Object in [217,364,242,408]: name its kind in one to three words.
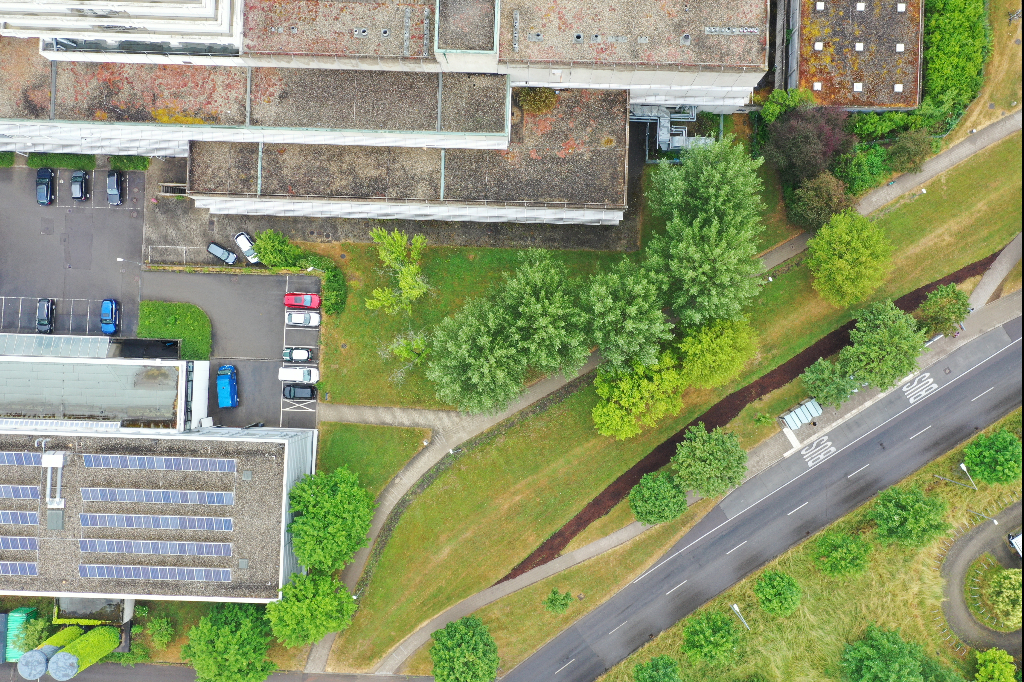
vehicle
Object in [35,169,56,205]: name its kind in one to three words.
car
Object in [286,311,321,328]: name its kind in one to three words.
car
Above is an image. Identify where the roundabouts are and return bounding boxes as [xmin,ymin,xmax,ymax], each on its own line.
[940,500,1024,659]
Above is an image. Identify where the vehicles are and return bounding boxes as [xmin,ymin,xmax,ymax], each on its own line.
[207,241,239,265]
[35,169,56,205]
[232,231,262,266]
[282,346,312,363]
[35,299,56,333]
[105,170,126,206]
[286,311,321,328]
[217,364,242,408]
[100,299,120,334]
[277,366,320,384]
[70,171,90,201]
[284,291,321,309]
[285,384,318,401]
